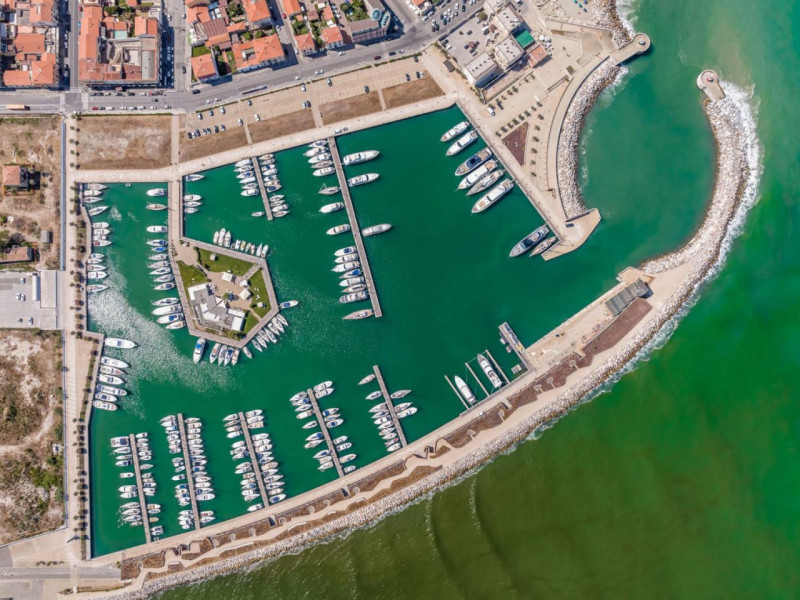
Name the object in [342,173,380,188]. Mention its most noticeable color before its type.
white boat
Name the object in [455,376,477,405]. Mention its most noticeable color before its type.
white boat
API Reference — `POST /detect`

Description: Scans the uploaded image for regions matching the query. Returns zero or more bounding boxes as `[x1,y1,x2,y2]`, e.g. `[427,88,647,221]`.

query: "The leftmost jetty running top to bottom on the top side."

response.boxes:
[252,158,273,220]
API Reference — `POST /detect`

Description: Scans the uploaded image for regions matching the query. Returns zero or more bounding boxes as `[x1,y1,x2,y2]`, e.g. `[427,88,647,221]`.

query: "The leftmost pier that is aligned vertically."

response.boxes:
[130,434,152,543]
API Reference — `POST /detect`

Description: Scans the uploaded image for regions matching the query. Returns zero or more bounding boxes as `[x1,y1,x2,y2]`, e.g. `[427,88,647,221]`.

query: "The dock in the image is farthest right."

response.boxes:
[695,70,725,103]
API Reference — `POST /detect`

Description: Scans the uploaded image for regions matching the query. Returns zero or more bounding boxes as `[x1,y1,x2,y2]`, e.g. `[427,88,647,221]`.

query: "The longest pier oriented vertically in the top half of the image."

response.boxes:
[329,138,382,318]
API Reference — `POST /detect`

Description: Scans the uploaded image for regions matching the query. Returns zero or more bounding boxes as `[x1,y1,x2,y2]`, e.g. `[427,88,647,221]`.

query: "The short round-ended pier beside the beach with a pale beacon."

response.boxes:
[610,33,651,68]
